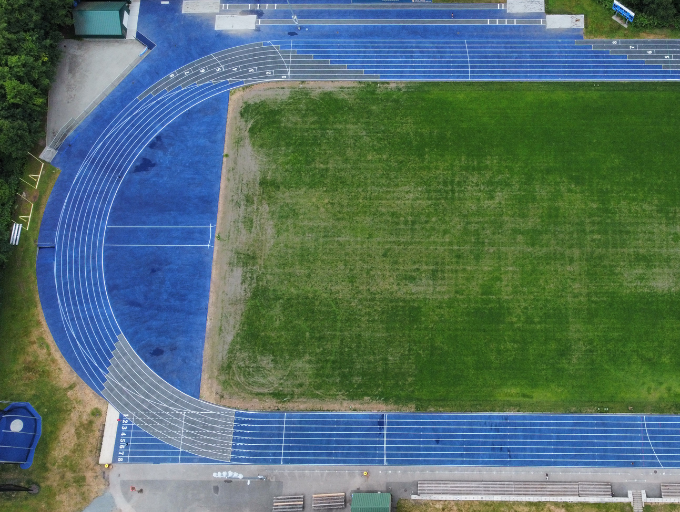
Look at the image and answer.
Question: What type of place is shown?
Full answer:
The area seen from above is a sports ground.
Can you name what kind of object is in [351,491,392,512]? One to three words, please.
shed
